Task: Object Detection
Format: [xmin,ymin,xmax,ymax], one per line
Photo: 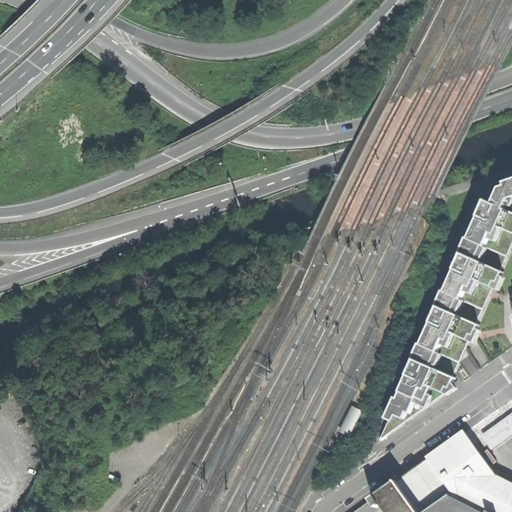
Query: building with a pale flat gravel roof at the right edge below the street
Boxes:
[476,412,512,470]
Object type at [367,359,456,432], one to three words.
building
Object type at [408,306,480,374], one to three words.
building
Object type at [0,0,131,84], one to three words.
bridge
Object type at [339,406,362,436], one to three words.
shed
